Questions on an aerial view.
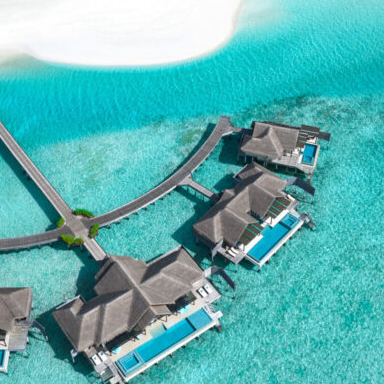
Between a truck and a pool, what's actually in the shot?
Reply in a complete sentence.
There is a pool in the scene.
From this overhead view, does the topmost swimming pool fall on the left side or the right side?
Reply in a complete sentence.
It is on the right.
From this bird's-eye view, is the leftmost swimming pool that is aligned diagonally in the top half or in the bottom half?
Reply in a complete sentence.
The leftmost swimming pool that is aligned diagonally is in the bottom half of the image.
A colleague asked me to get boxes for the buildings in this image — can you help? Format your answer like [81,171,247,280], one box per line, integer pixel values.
[241,120,330,183]
[54,244,236,384]
[0,286,51,358]
[191,164,316,271]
